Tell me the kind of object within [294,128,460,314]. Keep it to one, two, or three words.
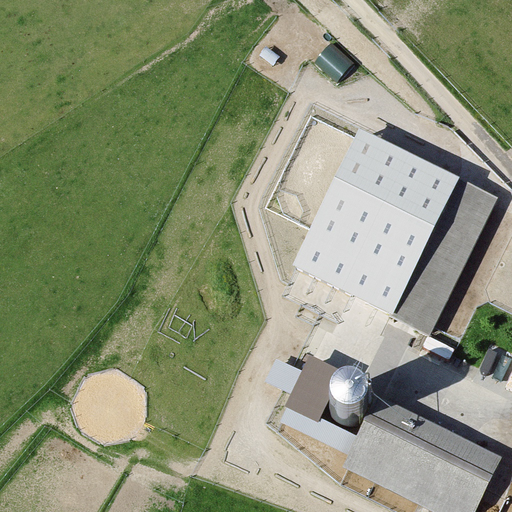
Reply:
barn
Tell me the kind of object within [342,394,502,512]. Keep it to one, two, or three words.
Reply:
barn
